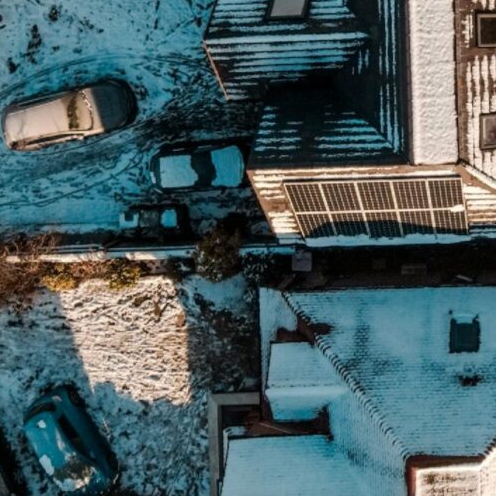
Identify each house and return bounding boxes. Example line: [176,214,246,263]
[219,246,496,496]
[199,0,496,245]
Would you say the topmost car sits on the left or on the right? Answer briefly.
left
